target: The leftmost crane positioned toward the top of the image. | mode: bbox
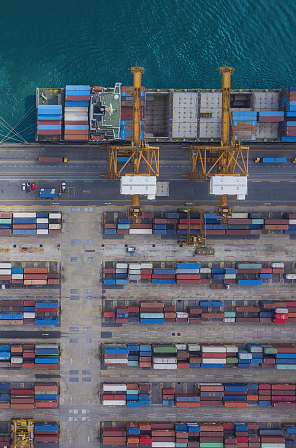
[99,67,163,223]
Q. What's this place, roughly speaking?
port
